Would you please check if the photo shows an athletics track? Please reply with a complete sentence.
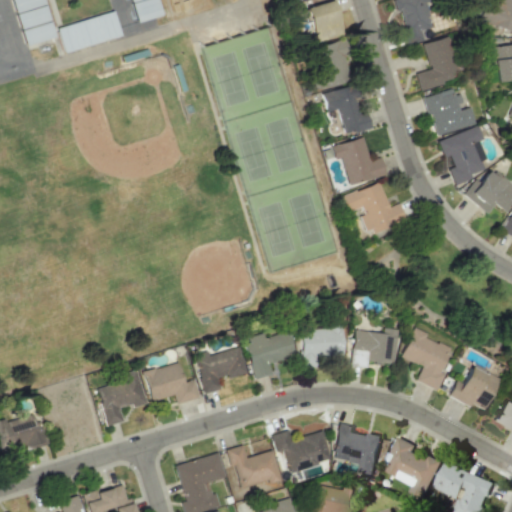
No, no athletics track can be seen from above.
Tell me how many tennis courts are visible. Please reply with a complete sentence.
I count 6 tennis courts.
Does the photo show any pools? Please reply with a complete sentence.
Yes, the photo shows a pool.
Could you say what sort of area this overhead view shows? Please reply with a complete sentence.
It's a residential area.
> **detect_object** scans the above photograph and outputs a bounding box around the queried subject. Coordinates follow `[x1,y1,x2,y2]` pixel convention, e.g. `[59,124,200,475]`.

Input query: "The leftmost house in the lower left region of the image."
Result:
[0,414,48,452]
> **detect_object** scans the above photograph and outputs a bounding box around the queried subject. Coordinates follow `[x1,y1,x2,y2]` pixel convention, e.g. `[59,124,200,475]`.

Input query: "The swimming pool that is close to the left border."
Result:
[20,398,35,413]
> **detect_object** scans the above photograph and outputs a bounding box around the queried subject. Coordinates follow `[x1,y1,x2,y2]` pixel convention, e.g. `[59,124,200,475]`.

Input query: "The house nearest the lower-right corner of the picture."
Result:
[434,466,494,512]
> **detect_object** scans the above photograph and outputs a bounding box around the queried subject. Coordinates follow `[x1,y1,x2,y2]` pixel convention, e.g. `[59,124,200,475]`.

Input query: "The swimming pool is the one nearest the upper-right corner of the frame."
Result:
[478,134,504,167]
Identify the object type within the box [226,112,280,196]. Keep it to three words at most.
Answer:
tennis court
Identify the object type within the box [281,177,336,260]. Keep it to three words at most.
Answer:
tennis court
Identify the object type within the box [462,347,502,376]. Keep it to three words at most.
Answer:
swimming pool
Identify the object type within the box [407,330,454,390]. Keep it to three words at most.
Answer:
house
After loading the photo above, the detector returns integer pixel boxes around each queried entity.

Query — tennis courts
[281,177,336,260]
[236,28,292,112]
[248,186,302,271]
[203,38,258,121]
[258,102,314,186]
[226,112,280,196]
